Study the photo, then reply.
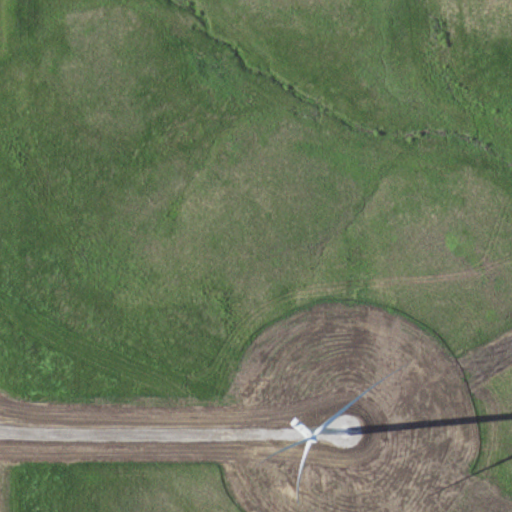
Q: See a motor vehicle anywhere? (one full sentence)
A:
No, I can't see a single motor vehicle in this photo.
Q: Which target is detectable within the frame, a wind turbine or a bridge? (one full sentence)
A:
The image shows a wind turbine.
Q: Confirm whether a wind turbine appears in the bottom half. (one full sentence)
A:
Yes, a wind turbine shows up in the bottom half.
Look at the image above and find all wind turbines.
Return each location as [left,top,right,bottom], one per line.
[262,368,401,501]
